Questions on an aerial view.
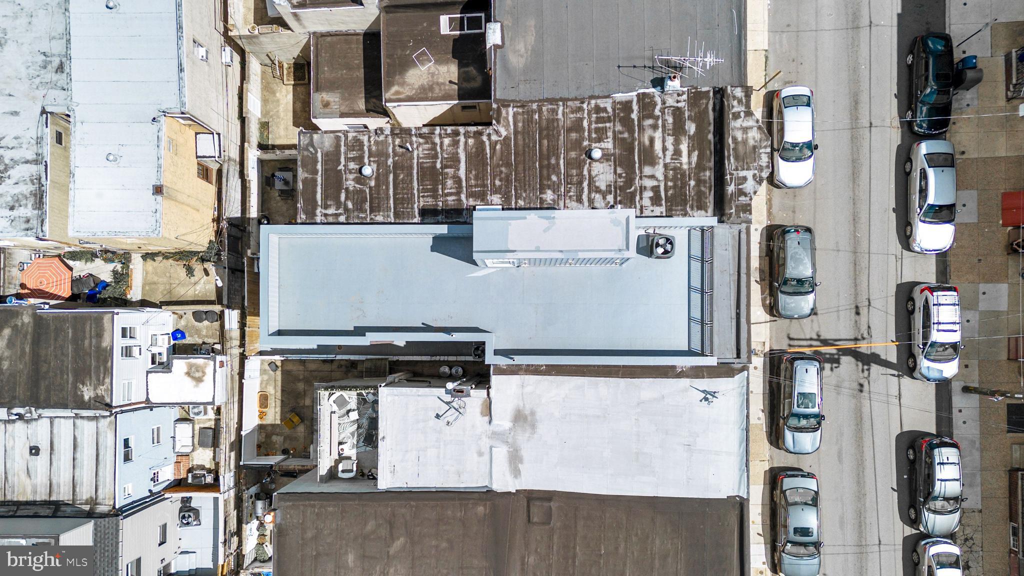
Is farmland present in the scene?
No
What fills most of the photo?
buildings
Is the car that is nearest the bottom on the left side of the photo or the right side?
right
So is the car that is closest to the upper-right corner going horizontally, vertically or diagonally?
vertically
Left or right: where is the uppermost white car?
right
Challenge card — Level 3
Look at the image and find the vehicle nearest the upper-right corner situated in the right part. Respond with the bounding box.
[903,29,958,136]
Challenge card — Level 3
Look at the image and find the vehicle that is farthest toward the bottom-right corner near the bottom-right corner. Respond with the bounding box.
[913,530,964,576]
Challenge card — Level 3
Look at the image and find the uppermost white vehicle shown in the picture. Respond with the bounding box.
[770,83,820,189]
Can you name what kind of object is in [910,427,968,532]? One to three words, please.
car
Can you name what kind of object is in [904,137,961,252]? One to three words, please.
car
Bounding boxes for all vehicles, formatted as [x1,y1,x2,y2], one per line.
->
[771,220,821,319]
[775,346,828,454]
[903,29,958,136]
[904,137,961,252]
[772,465,826,576]
[910,427,968,532]
[770,83,820,189]
[913,530,964,576]
[908,278,966,382]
